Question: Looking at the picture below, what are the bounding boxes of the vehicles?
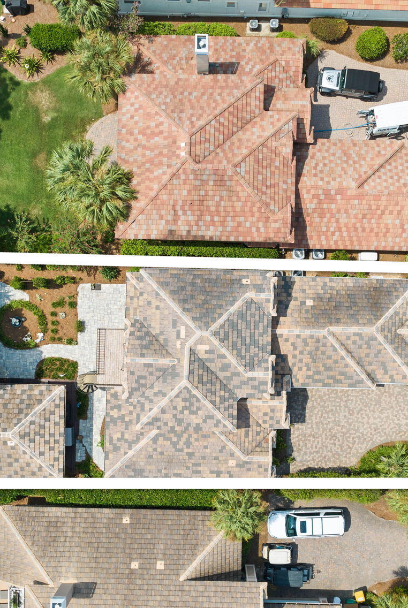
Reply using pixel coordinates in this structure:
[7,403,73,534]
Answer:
[314,63,384,103]
[259,565,316,591]
[267,505,345,543]
[259,542,293,566]
[356,98,408,141]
